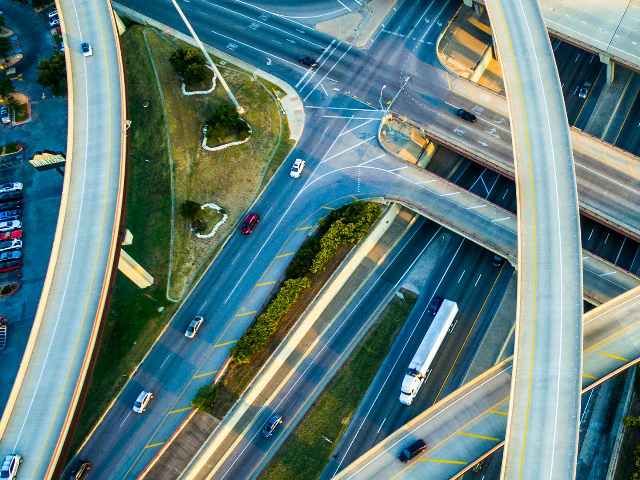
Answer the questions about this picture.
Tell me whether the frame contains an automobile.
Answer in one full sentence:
Yes, an automobile is visible in the scene.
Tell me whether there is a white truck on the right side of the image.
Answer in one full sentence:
Yes, a white truck can be seen on the right side of the image.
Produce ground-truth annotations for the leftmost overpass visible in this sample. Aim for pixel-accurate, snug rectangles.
[0,0,152,480]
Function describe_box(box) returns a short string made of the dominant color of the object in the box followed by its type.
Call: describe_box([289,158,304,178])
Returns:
white car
